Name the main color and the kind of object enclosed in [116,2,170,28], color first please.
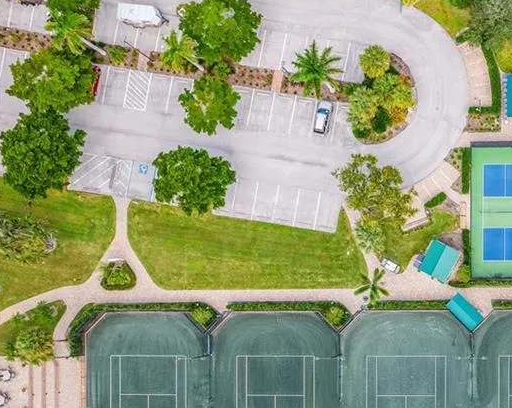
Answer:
white trailer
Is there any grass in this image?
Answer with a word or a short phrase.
Yes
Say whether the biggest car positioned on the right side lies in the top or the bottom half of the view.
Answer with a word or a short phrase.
top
